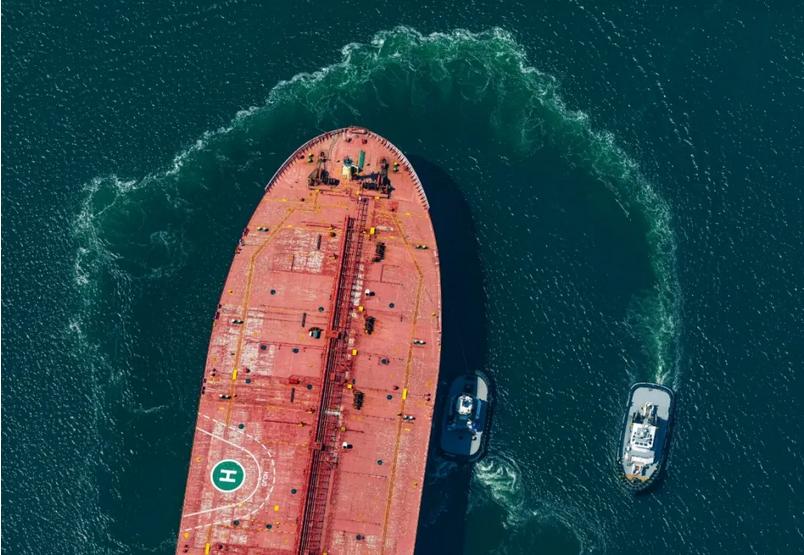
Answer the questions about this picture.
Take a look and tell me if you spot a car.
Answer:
No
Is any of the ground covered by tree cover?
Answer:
No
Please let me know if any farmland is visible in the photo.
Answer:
No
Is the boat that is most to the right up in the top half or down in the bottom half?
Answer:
bottom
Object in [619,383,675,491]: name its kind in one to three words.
boat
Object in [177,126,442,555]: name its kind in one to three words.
ship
